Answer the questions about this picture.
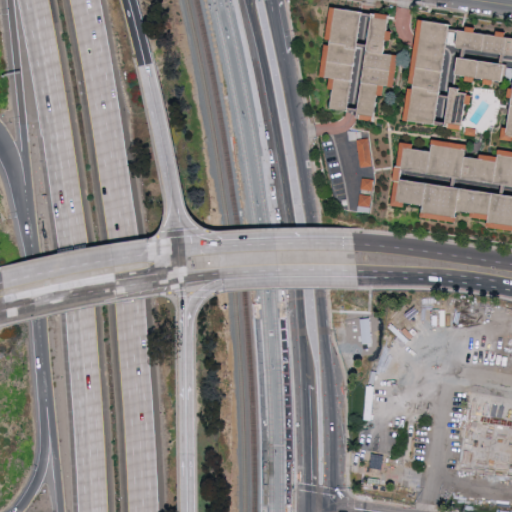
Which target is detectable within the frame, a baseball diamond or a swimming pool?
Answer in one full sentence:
The image shows a swimming pool.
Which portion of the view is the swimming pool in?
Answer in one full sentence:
The swimming pool appears toward the top right of the photo.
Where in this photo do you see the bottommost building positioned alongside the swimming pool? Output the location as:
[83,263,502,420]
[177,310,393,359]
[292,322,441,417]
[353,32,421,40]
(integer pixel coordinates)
[390,140,512,232]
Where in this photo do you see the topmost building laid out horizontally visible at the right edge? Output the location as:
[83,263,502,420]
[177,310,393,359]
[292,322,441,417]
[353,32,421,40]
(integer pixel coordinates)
[454,26,512,60]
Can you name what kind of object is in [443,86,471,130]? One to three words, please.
building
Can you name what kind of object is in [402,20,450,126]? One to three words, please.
building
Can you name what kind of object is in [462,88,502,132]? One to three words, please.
swimming pool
